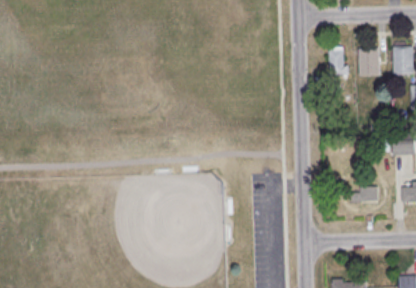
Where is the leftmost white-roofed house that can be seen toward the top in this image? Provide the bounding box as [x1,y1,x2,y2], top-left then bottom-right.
[328,46,350,78]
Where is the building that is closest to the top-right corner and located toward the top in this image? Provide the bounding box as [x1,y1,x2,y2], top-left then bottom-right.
[393,47,414,76]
